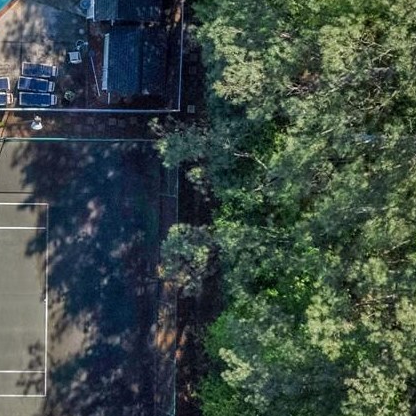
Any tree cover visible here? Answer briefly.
Yes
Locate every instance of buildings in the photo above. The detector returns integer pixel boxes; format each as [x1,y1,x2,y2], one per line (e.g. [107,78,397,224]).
[102,31,165,101]
[86,0,158,26]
